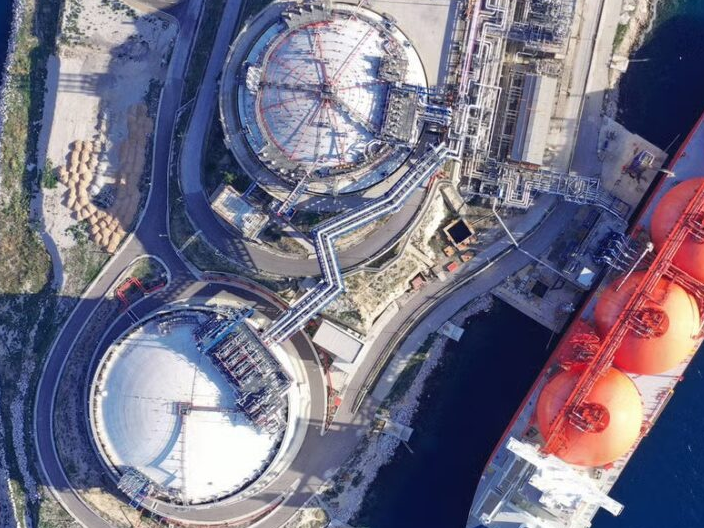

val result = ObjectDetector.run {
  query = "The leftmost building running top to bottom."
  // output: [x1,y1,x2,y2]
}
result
[511,73,558,167]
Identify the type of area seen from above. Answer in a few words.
industrial area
